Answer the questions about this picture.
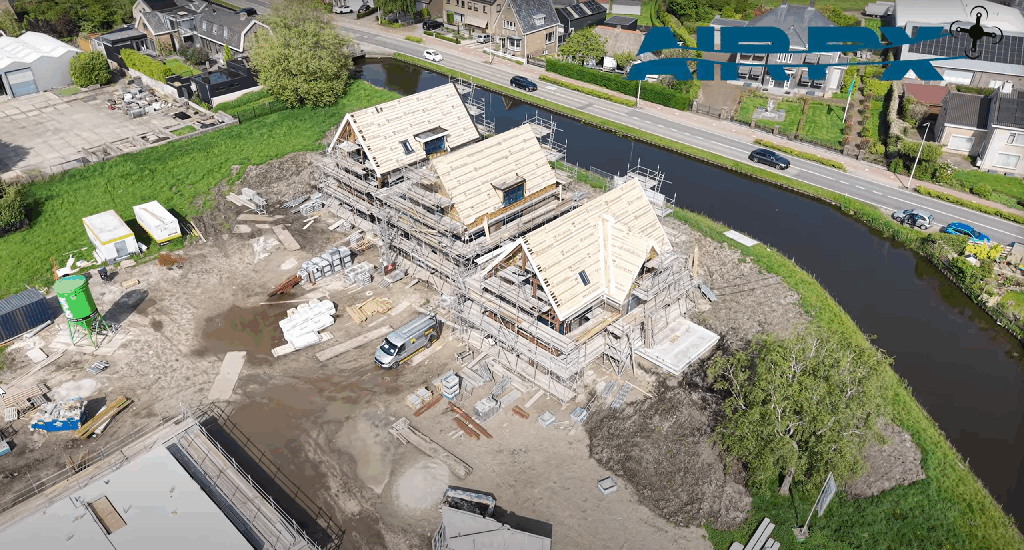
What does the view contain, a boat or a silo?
silo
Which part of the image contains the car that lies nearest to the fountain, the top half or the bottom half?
top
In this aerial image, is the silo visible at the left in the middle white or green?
green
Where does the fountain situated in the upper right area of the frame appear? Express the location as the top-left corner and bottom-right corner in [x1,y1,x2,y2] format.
[755,101,786,120]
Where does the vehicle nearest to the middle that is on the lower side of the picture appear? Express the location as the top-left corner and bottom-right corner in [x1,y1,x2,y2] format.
[367,310,440,374]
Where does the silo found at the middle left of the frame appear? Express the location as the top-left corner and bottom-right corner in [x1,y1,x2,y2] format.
[58,280,123,346]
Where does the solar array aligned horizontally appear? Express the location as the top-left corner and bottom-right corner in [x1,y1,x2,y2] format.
[914,29,1024,69]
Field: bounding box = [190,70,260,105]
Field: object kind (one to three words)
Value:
building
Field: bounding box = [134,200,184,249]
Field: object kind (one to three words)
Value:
building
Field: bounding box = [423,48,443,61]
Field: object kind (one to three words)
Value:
vehicle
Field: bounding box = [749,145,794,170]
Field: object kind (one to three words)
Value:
car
